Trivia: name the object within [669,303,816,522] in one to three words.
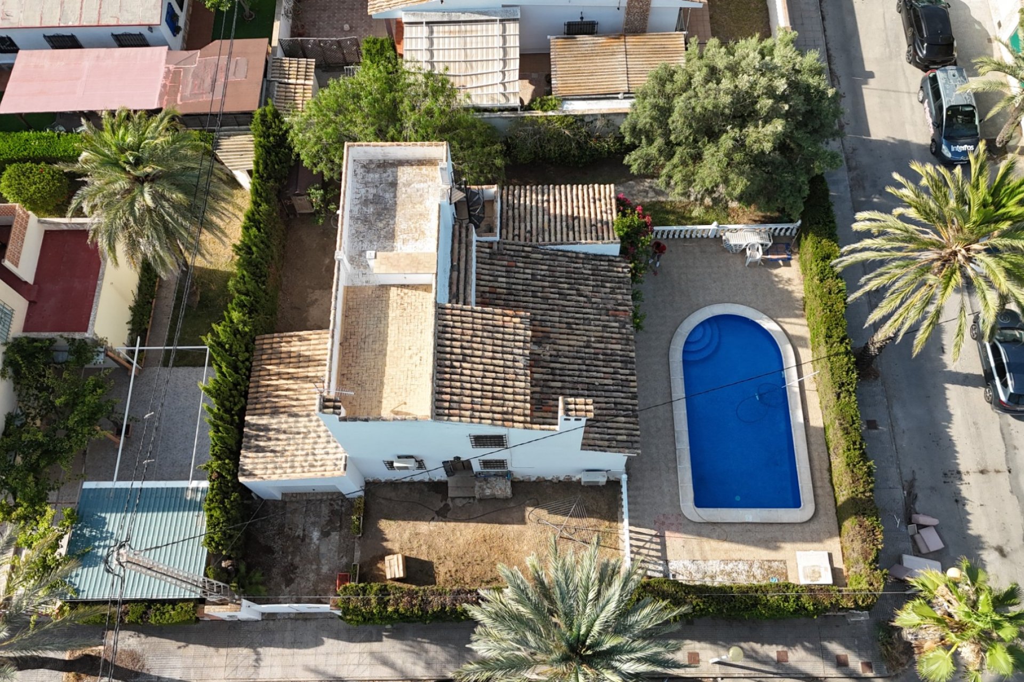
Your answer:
swimming pool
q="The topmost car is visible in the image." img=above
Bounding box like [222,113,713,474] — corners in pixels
[895,0,954,67]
